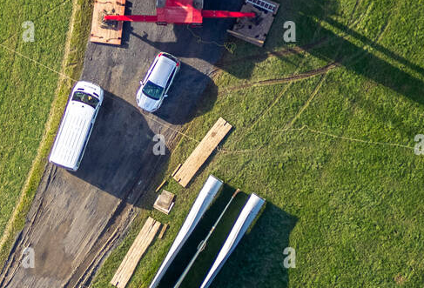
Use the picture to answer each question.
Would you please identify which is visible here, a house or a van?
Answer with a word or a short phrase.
van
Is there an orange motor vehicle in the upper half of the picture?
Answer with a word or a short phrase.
No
